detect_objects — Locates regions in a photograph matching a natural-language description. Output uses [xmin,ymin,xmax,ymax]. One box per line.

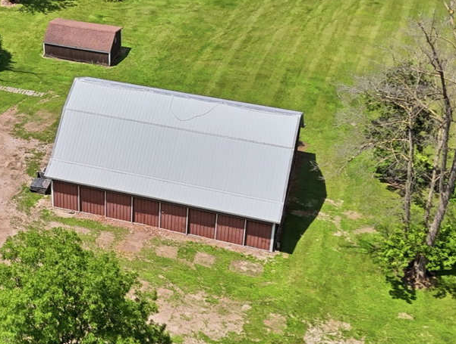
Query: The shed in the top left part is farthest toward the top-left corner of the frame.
[43,14,122,65]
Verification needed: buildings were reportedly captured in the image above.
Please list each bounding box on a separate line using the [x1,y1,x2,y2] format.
[41,71,307,251]
[43,14,122,65]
